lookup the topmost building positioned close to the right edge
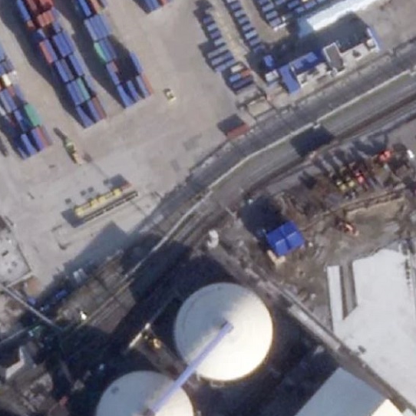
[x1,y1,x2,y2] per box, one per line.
[302,0,398,40]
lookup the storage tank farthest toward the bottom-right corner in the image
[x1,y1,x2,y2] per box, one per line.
[173,284,276,387]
